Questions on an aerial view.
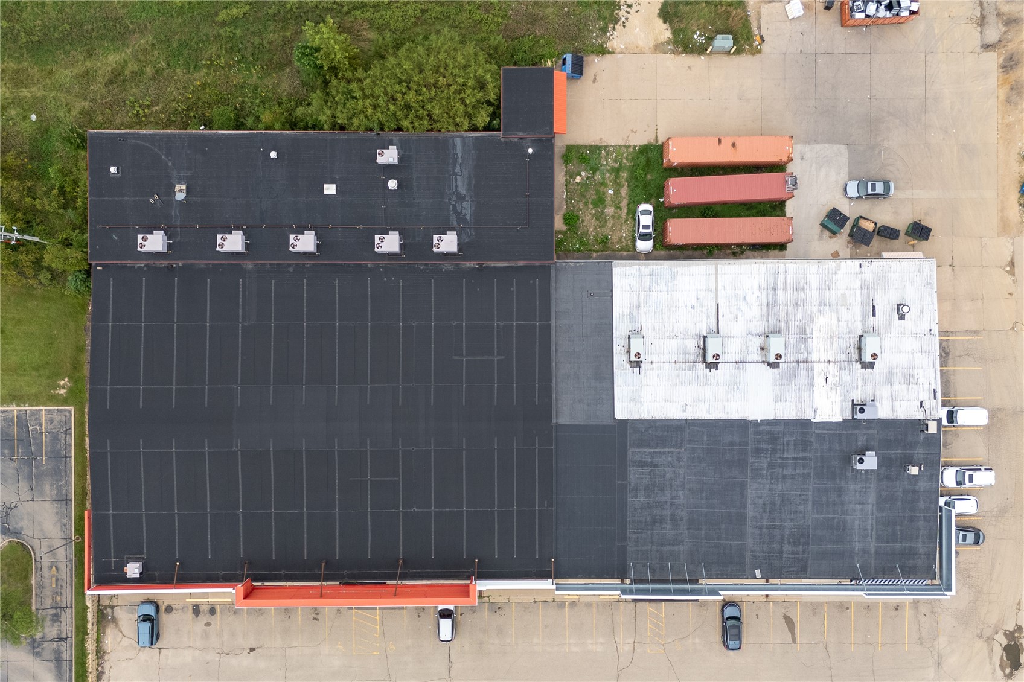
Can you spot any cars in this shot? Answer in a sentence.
Yes, the image includes a car.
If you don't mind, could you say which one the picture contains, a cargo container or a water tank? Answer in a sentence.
Looking from above, you can make out a cargo container.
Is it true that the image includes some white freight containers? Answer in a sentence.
No, the picture doesn't show any white freight container.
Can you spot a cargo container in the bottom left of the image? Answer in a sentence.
No, there is no cargo container in the bottom left of the image.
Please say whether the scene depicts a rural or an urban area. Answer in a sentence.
From above, the setting appears urban.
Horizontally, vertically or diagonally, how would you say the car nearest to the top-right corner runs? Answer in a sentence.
The car nearest to the top-right corner is oriented horizontally.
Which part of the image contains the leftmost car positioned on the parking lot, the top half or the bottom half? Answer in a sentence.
The bottom half of the photo is where the leftmost car positioned on the parking lot is.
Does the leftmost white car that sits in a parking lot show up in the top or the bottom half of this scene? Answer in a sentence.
The leftmost white car that sits in a parking lot sits in the bottom half of the picture.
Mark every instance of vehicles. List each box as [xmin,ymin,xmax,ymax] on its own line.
[436,606,457,645]
[940,494,981,514]
[634,204,656,253]
[941,406,991,428]
[720,601,744,653]
[955,525,986,548]
[843,177,894,201]
[940,465,997,489]
[135,599,163,649]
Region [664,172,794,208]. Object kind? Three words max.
shipping container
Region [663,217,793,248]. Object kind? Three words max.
shipping container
